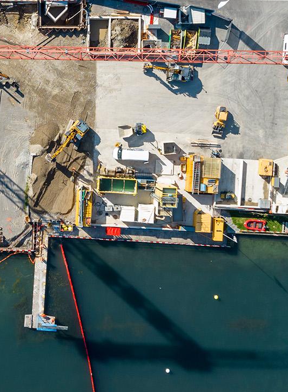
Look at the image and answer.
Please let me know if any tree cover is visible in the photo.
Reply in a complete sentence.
No, the picture contains no tree cover.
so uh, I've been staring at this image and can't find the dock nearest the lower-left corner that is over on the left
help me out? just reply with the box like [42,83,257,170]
[24,234,55,329]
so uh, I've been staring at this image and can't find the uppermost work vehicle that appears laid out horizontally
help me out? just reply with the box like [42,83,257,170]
[143,66,193,84]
